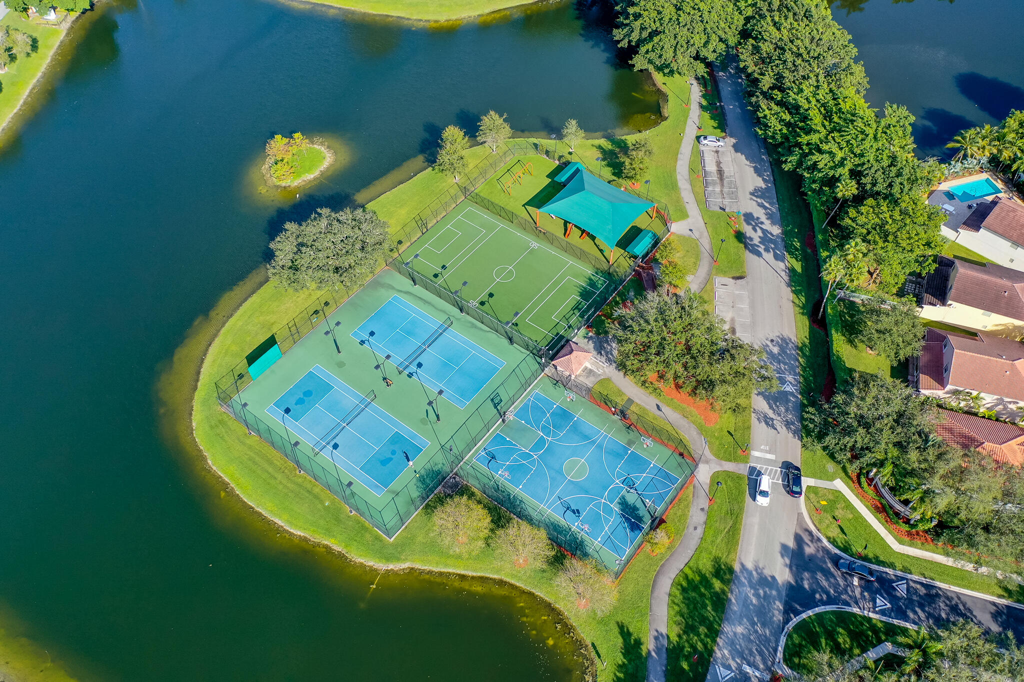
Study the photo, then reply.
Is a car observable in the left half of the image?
No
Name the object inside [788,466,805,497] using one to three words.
car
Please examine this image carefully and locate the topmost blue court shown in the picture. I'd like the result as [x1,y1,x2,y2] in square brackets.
[350,294,506,409]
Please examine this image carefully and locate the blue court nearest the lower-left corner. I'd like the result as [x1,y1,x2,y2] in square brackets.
[265,364,430,496]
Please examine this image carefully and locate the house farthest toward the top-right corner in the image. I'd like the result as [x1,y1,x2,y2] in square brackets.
[952,198,1024,277]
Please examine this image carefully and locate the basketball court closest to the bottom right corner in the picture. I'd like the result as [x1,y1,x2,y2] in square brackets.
[454,374,695,578]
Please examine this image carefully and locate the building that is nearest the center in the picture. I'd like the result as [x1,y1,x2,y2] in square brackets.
[551,341,593,386]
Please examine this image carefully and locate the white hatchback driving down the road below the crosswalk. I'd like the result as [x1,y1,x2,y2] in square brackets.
[756,473,773,506]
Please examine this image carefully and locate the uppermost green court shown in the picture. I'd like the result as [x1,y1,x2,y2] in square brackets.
[387,198,628,373]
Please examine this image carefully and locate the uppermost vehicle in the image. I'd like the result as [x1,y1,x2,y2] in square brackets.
[700,135,725,147]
